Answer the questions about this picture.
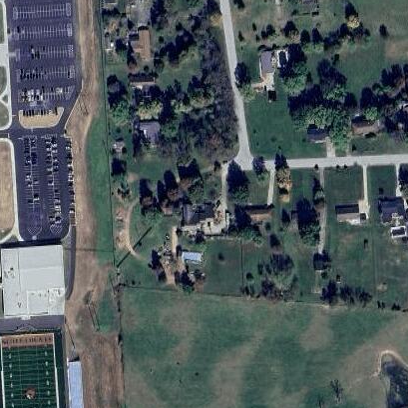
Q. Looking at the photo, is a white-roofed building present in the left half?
Yes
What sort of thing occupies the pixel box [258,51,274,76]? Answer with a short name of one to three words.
house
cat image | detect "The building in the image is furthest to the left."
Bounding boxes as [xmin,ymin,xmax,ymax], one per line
[0,246,63,320]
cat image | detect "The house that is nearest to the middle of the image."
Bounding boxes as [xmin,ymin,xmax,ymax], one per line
[184,205,216,230]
